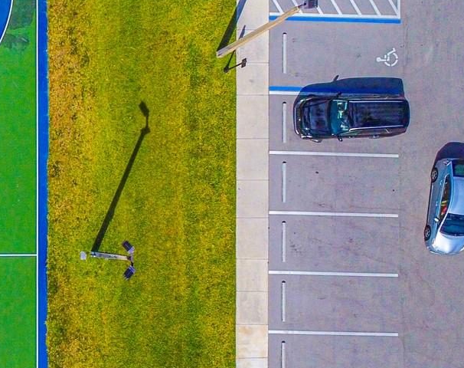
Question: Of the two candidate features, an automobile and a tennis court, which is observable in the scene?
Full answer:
Looking from above, you can make out an automobile.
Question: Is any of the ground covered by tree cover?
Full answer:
No, no tree cover is visible.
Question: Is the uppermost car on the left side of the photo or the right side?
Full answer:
You can find the uppermost car on the right side of the picture.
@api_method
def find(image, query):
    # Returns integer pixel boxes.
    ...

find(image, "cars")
[426,158,464,254]
[292,93,407,143]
